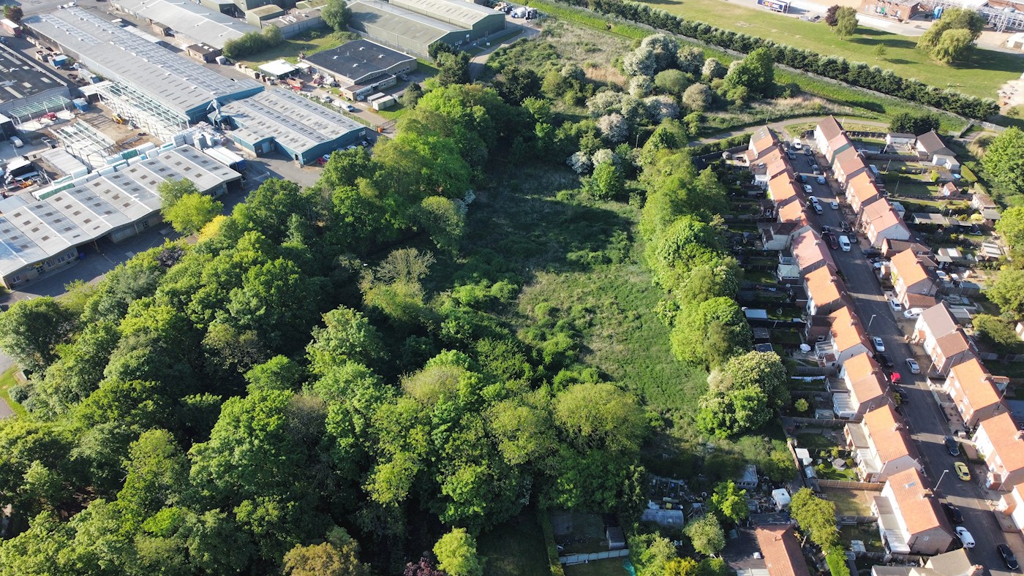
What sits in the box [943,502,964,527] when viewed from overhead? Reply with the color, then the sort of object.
black car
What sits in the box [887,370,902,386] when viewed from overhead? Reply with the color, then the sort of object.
red car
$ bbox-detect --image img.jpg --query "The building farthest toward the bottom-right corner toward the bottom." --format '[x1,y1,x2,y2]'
[982,488,1024,560]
